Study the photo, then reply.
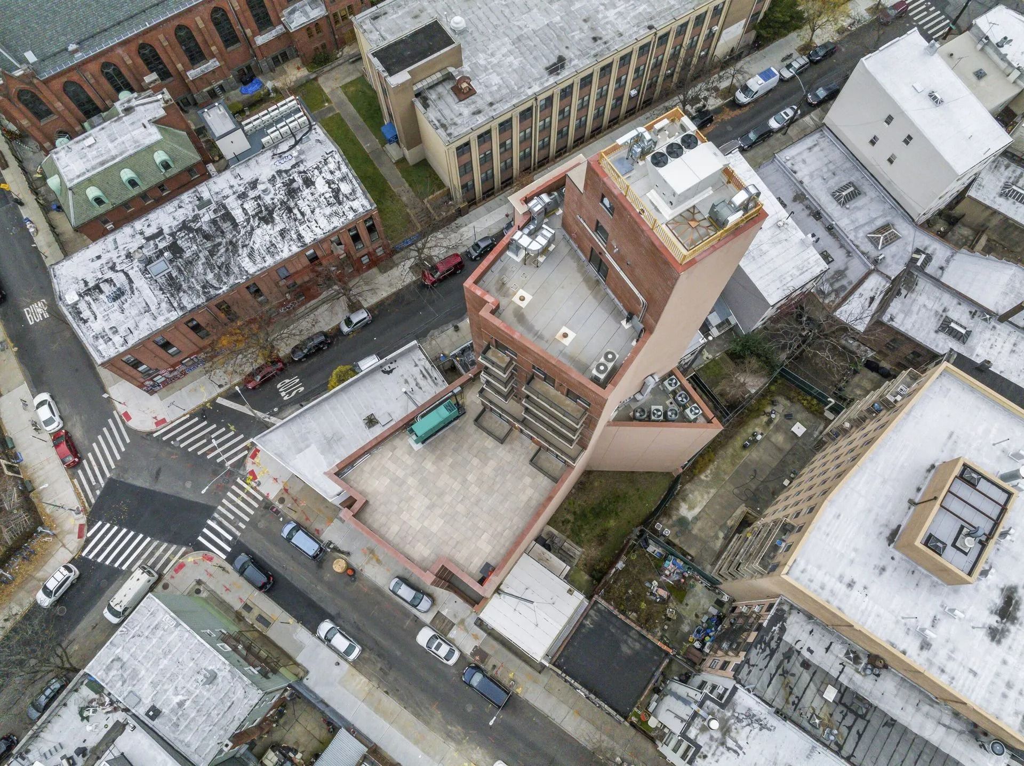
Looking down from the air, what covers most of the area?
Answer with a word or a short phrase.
buildings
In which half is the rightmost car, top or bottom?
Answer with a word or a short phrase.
top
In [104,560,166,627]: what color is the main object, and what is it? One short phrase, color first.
white van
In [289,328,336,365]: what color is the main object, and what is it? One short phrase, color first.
black car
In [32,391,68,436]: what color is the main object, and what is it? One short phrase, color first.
white car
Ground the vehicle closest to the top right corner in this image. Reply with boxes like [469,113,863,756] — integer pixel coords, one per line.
[873,0,915,29]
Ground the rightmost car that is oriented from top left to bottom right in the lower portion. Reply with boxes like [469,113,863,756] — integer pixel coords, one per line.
[456,659,516,717]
